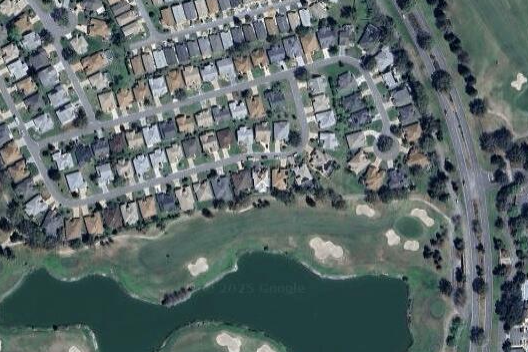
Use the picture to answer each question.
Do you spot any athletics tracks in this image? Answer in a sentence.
No, the frame has no athletics track in it.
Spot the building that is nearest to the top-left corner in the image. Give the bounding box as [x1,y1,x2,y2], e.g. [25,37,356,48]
[0,0,27,18]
